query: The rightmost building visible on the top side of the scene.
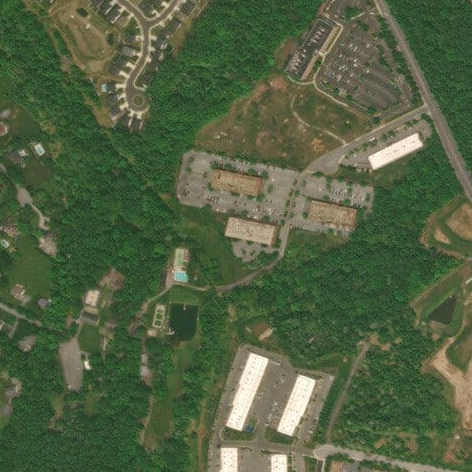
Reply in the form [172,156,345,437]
[369,133,424,170]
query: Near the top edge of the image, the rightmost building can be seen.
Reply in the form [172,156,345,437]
[285,17,340,83]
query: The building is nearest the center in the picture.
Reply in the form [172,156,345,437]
[225,217,279,245]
